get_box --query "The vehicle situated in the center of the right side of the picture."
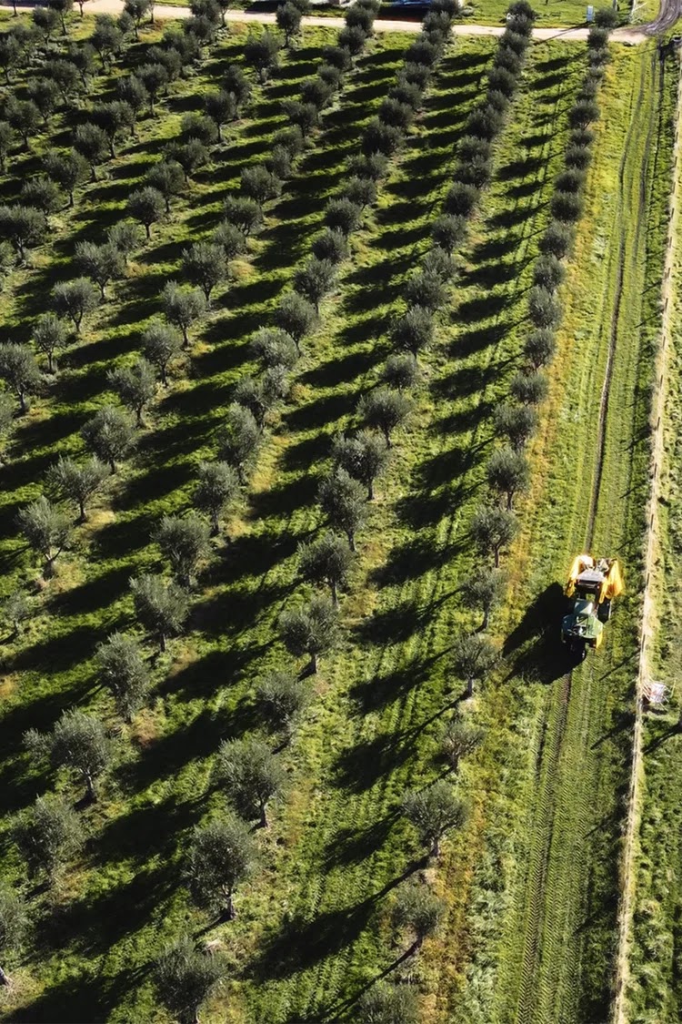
[559,553,624,664]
